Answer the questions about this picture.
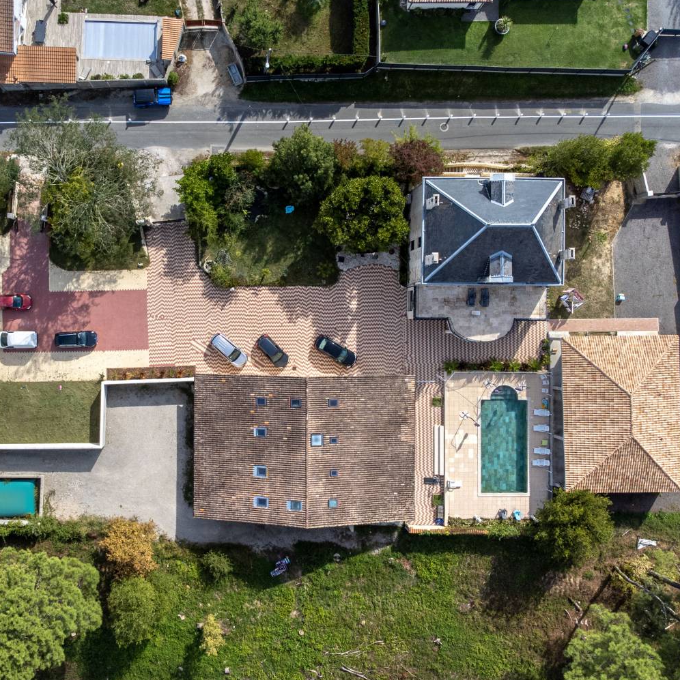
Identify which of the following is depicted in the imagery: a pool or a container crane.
pool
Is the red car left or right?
left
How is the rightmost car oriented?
diagonally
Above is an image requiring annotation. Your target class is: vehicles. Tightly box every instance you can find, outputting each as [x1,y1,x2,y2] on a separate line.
[209,333,248,369]
[0,330,39,352]
[313,334,356,368]
[0,292,34,312]
[53,330,99,351]
[133,87,174,109]
[256,335,289,369]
